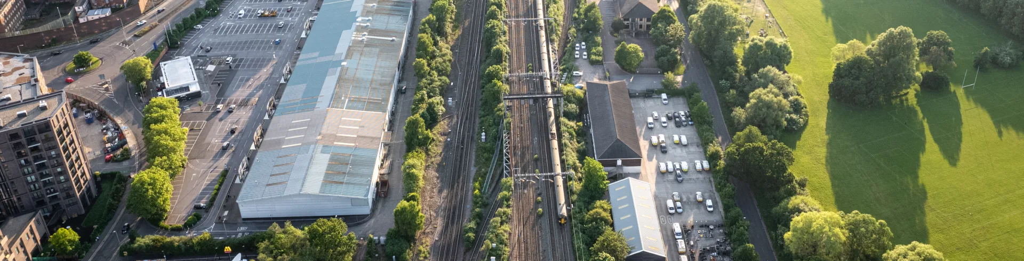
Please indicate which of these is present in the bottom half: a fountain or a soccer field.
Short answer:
soccer field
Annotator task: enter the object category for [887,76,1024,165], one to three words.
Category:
sports field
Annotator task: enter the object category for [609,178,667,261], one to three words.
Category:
shed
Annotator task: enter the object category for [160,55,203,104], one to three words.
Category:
building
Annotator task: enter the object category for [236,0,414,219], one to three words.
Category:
warehouse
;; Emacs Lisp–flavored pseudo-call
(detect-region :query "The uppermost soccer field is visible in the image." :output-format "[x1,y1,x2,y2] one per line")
[832,0,983,43]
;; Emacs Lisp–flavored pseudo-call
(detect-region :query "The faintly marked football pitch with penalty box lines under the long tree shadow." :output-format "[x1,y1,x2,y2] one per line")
[855,131,976,209]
